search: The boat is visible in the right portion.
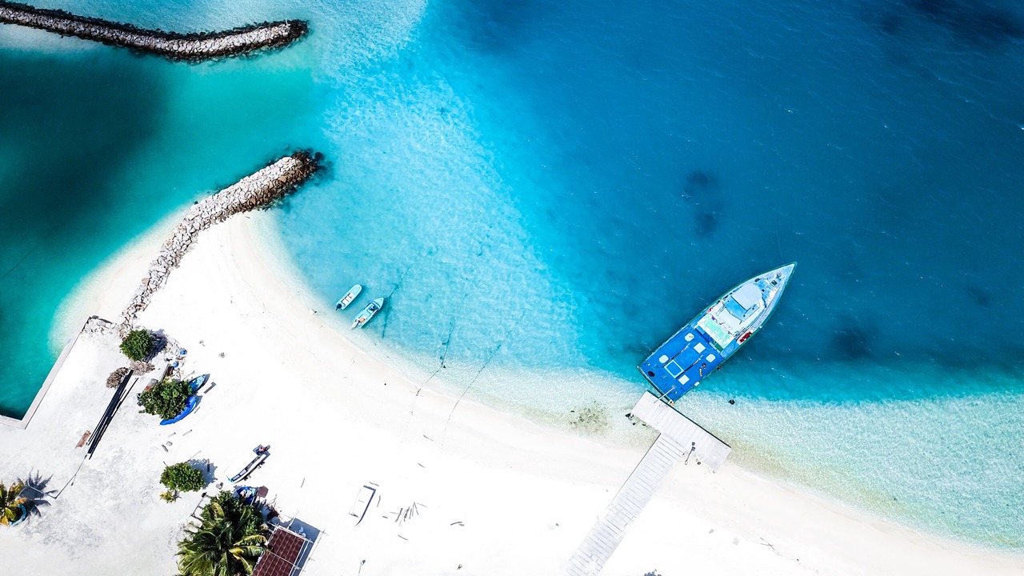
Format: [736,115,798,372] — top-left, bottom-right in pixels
[637,262,798,406]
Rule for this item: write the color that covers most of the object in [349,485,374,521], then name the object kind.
white boat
